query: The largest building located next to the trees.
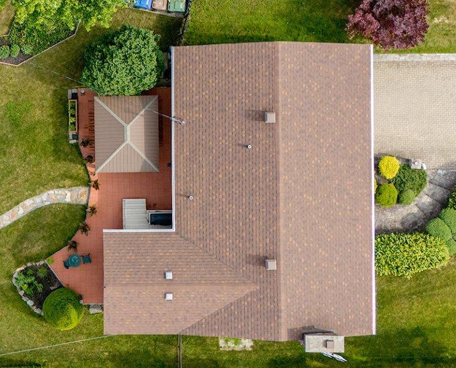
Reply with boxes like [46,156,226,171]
[104,43,377,353]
